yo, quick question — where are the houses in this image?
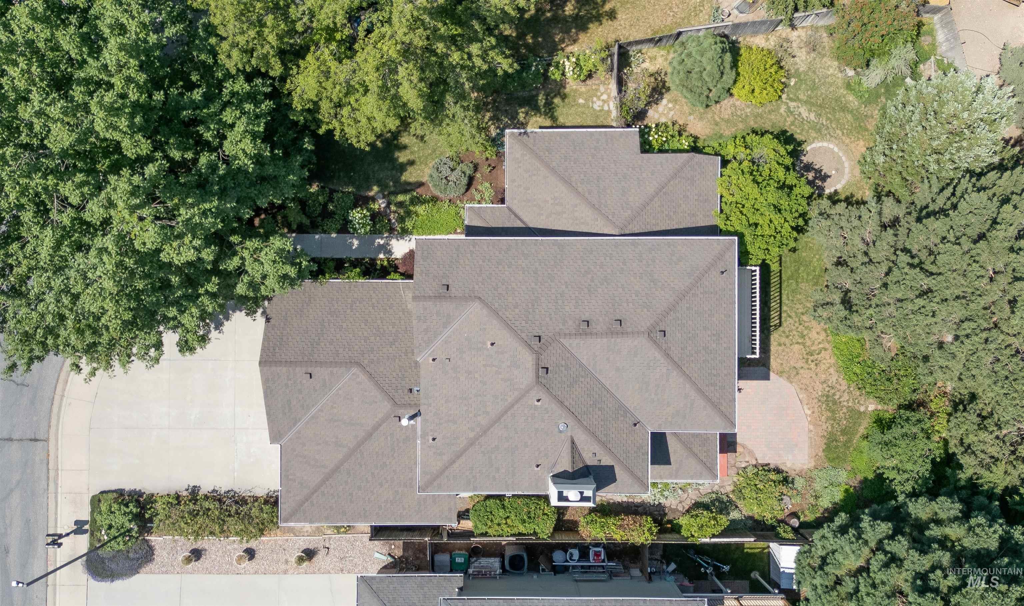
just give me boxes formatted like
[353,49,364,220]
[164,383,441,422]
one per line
[355,564,710,606]
[257,127,760,528]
